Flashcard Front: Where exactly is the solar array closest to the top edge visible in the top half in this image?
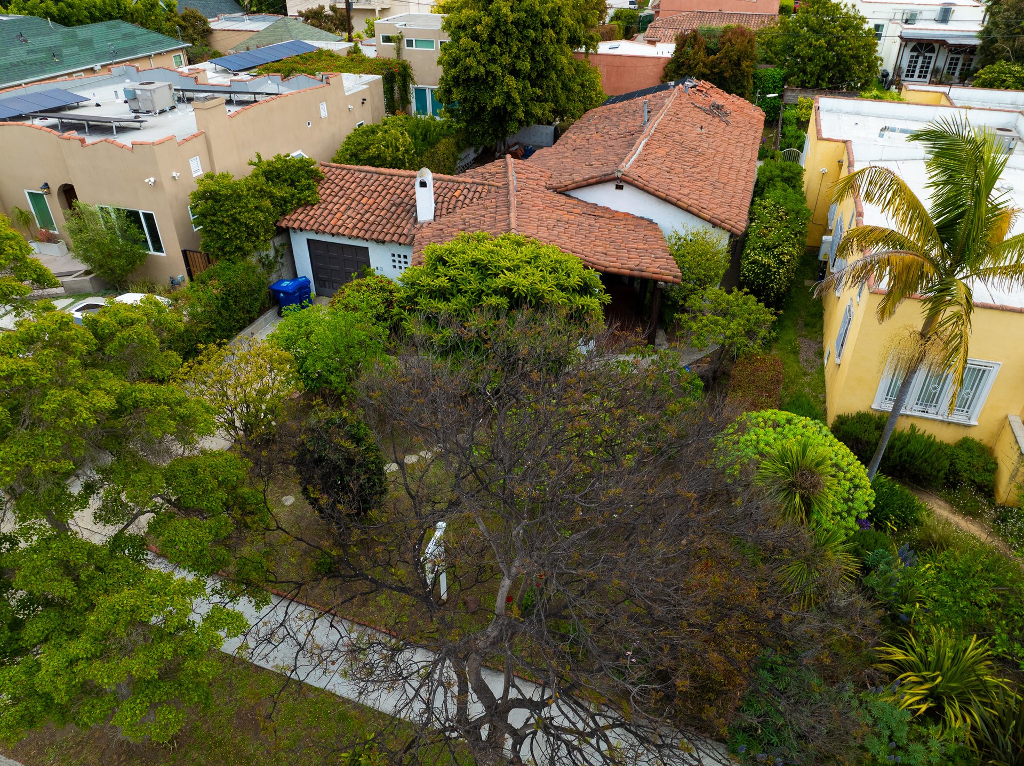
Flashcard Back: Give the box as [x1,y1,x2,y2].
[209,40,315,75]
